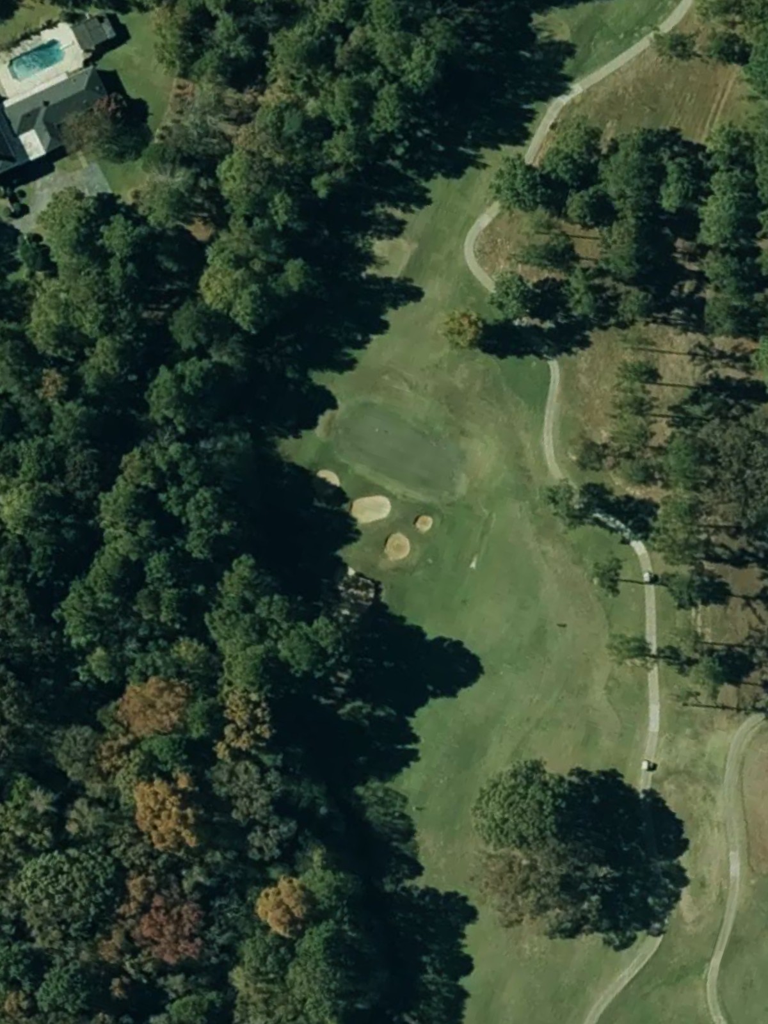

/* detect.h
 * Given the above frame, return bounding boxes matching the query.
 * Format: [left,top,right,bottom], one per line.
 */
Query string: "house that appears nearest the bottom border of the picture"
[0,66,105,174]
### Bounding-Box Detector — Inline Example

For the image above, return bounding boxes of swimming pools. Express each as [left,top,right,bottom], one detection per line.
[7,38,73,82]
